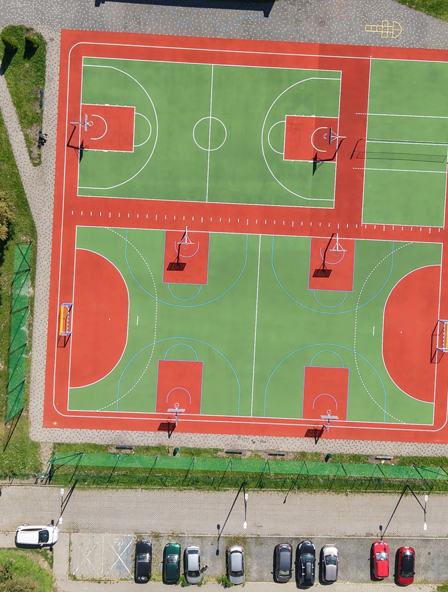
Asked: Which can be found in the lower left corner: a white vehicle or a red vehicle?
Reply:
white vehicle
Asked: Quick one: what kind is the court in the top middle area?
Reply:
basketball court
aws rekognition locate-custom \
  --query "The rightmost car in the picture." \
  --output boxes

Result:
[396,546,416,584]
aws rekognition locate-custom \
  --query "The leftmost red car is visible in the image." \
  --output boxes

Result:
[372,539,391,579]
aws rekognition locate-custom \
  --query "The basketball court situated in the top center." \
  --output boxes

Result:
[76,56,341,208]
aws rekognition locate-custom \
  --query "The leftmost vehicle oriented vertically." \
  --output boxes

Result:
[132,541,153,582]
